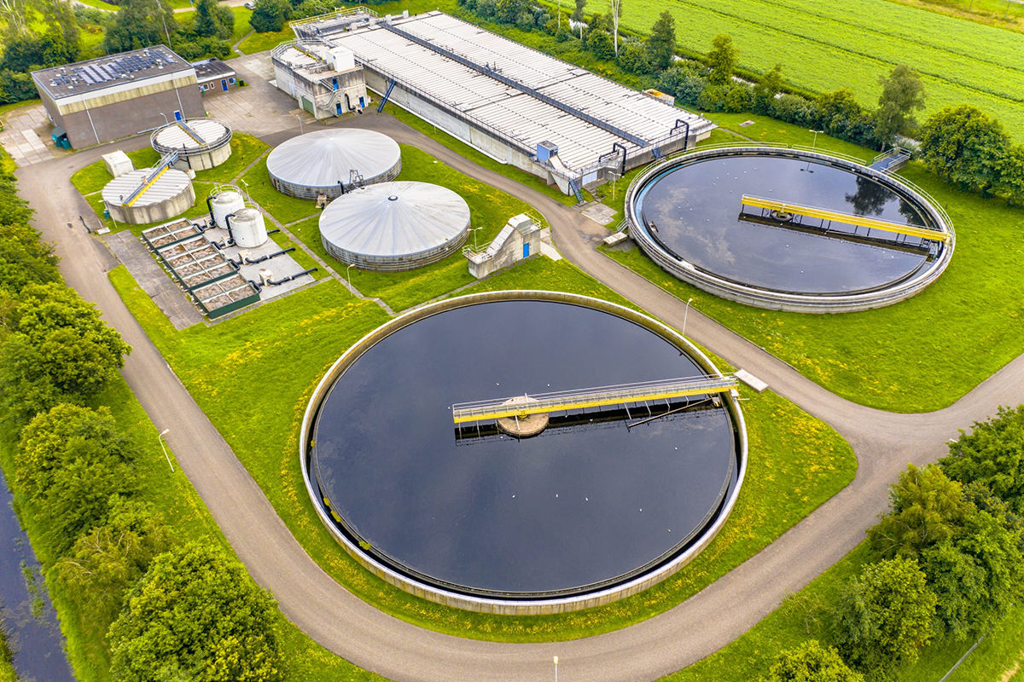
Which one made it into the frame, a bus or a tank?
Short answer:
tank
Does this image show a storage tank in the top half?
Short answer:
Yes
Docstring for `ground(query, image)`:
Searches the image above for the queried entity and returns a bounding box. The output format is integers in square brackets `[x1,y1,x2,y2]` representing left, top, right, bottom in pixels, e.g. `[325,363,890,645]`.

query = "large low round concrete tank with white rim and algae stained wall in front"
[297,291,748,617]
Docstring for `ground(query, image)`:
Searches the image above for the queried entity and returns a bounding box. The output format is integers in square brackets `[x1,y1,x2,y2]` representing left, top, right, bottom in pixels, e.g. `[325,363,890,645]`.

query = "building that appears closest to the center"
[465,212,541,278]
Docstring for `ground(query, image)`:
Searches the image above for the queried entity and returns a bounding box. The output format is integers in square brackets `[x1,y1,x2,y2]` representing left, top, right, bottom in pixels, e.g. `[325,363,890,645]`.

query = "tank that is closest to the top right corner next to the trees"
[618,140,959,318]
